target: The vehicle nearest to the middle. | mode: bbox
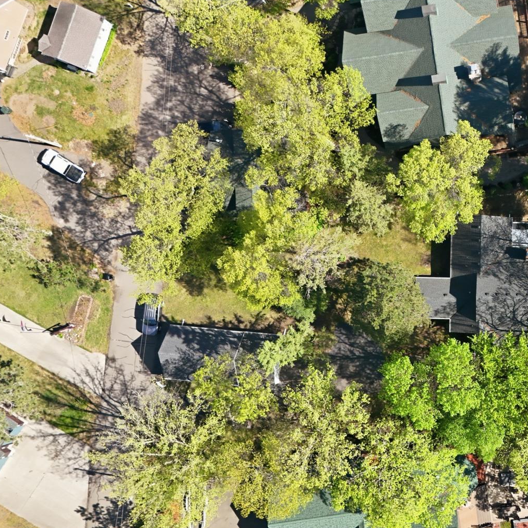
[140,289,163,333]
